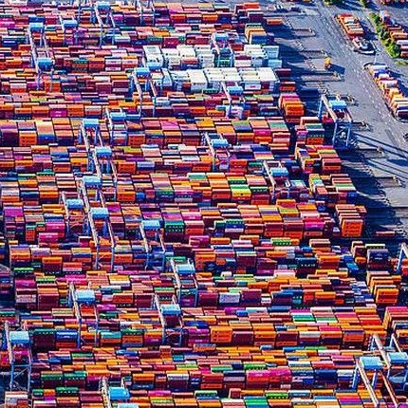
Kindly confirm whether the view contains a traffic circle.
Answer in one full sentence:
No, I find no traffic circle anywhere in the image.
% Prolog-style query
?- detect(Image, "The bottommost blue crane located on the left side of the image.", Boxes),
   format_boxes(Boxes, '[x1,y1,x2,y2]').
[103,377,132,408]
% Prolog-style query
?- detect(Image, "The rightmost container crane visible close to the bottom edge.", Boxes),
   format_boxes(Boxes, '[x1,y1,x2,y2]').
[375,334,408,391]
